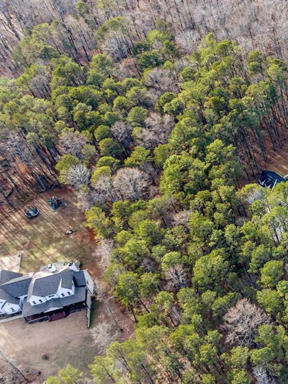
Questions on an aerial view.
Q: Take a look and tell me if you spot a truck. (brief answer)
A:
No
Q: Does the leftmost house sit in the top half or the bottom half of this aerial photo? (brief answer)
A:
bottom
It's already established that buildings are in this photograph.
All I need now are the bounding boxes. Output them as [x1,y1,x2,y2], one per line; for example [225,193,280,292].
[253,167,288,195]
[0,254,100,333]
